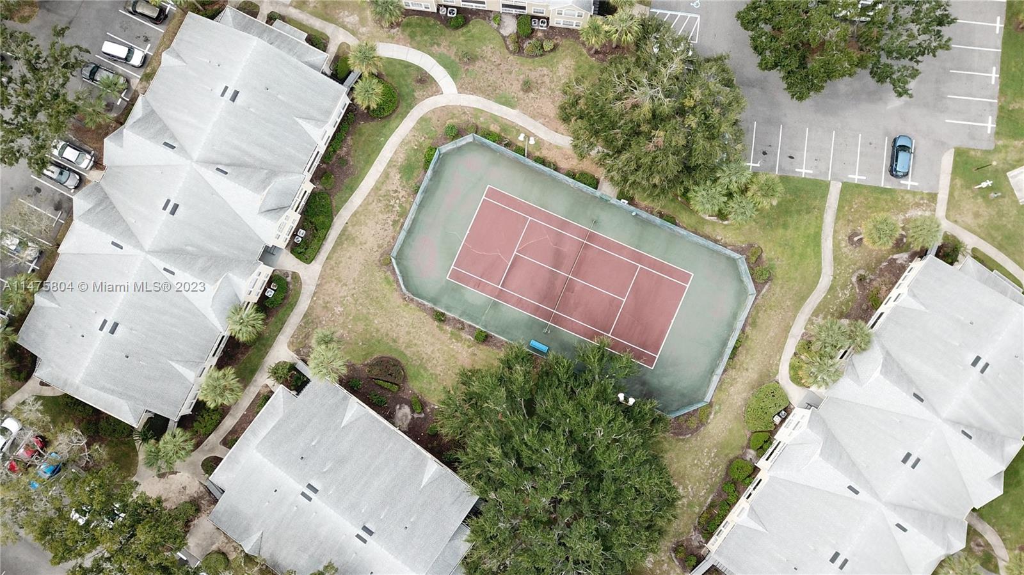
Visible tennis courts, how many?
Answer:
1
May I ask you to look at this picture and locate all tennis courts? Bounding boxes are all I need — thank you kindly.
[397,144,744,411]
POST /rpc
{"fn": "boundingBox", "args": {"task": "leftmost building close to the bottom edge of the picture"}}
[205,357,479,575]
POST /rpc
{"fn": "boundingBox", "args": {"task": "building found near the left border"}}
[17,3,361,439]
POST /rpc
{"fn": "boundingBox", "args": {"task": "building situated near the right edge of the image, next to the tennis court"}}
[684,238,1024,575]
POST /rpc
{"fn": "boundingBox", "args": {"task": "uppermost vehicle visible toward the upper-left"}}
[123,0,172,27]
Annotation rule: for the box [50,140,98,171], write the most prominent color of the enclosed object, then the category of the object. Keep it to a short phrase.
white car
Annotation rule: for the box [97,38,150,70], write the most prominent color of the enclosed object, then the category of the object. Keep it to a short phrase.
white vehicle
